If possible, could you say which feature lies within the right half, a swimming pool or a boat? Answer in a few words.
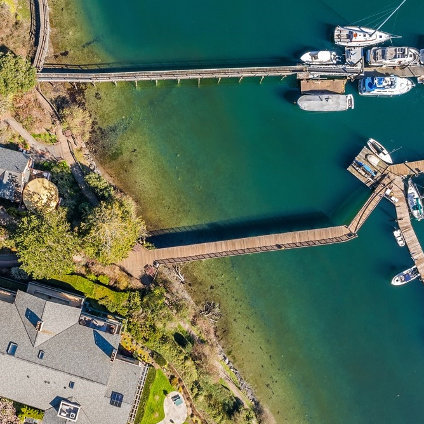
boat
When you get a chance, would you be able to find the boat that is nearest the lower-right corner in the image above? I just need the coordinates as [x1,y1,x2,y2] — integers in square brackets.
[393,268,423,283]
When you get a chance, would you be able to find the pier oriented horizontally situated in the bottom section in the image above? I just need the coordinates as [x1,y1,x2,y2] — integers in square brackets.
[116,227,358,285]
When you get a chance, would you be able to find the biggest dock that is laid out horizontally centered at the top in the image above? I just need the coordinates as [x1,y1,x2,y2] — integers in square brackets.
[35,64,306,86]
